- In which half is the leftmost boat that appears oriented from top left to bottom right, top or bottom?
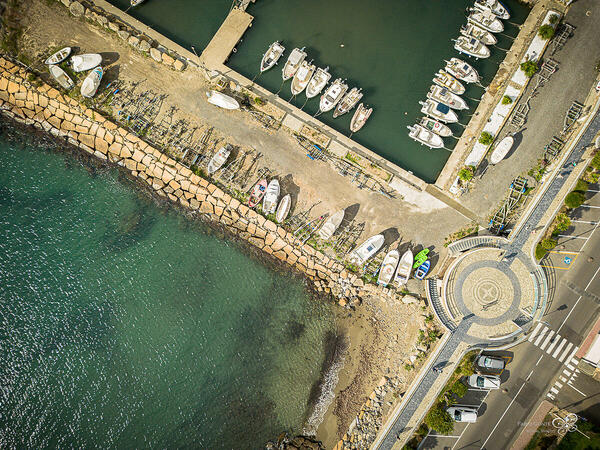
top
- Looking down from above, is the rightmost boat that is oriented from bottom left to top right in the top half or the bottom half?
top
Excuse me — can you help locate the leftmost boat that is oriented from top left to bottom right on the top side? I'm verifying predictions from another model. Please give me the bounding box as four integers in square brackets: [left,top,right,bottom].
[50,64,79,93]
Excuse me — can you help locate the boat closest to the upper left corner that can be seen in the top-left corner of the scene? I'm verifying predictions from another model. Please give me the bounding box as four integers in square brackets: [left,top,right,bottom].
[44,48,73,65]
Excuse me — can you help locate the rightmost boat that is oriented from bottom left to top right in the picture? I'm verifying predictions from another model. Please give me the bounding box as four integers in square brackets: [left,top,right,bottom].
[480,137,516,173]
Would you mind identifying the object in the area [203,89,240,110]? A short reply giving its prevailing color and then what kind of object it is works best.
white boat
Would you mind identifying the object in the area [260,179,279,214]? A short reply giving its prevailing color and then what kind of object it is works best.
white boat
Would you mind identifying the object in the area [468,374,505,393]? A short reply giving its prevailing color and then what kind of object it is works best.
white car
